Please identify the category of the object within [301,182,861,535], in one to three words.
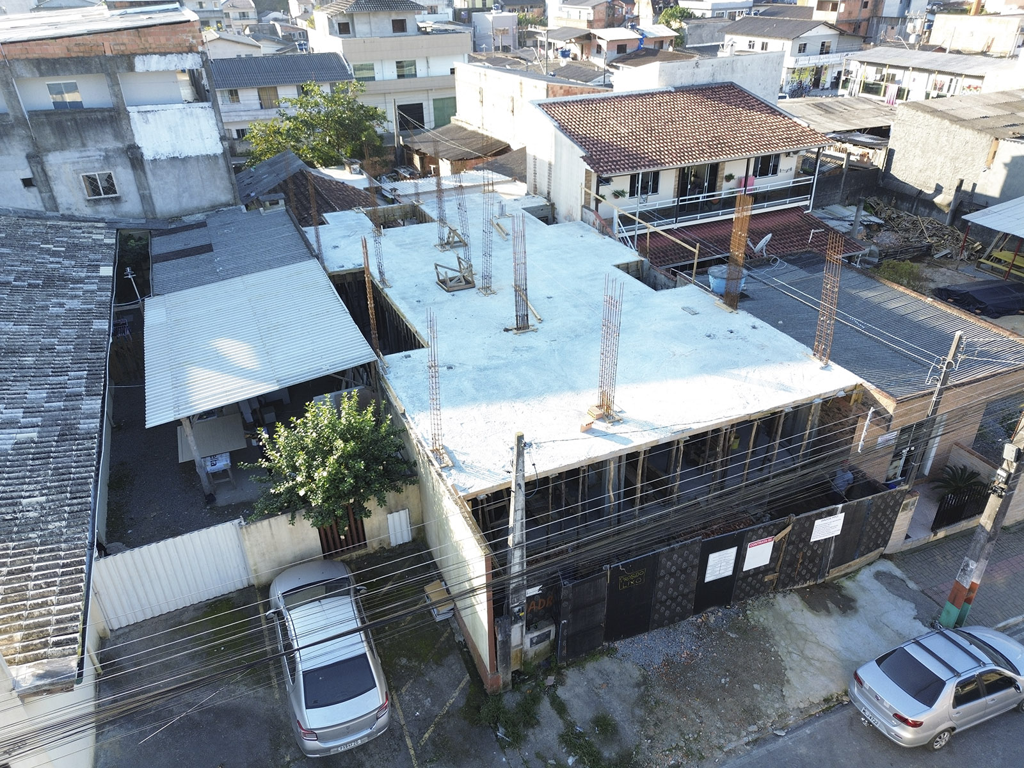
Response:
building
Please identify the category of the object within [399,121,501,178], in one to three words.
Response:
shed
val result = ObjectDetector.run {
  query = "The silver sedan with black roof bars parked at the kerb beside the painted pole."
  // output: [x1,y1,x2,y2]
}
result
[854,611,1024,747]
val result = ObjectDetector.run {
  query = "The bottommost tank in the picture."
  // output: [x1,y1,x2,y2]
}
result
[712,274,746,306]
